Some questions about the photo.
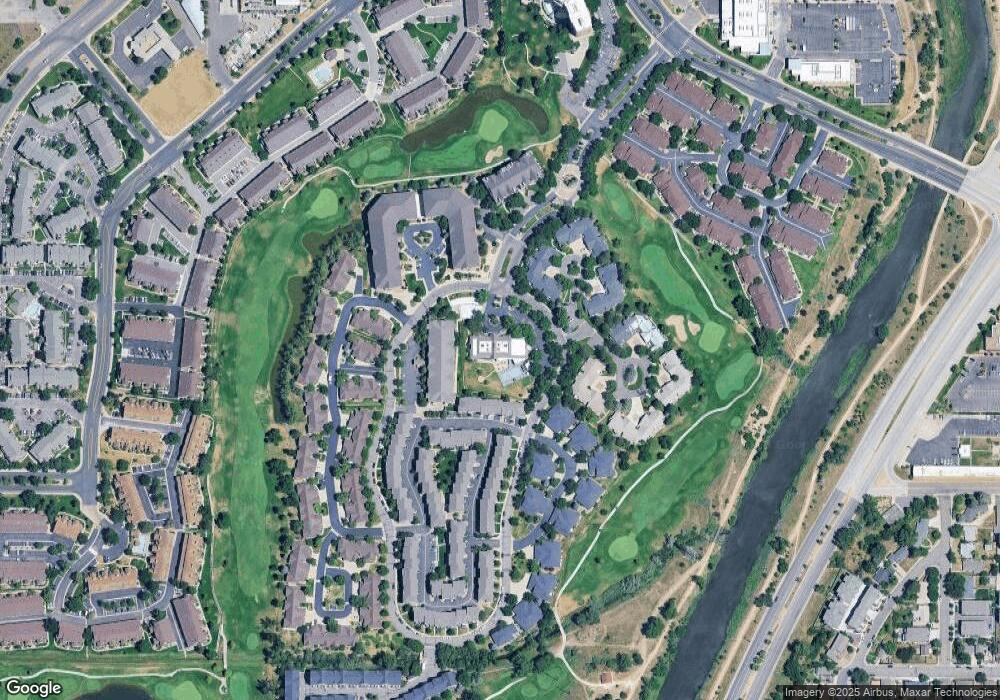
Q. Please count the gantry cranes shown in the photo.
none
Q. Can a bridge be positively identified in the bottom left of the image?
No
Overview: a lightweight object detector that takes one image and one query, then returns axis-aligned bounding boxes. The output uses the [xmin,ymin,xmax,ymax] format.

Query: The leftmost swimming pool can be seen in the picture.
[24,298,44,316]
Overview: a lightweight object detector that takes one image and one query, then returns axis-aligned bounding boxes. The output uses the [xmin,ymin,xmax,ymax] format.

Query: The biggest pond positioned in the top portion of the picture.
[405,85,549,153]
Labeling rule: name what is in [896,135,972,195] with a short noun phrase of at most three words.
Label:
bridge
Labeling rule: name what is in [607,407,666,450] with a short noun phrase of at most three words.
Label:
house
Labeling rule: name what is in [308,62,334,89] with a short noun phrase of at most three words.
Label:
swimming pool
